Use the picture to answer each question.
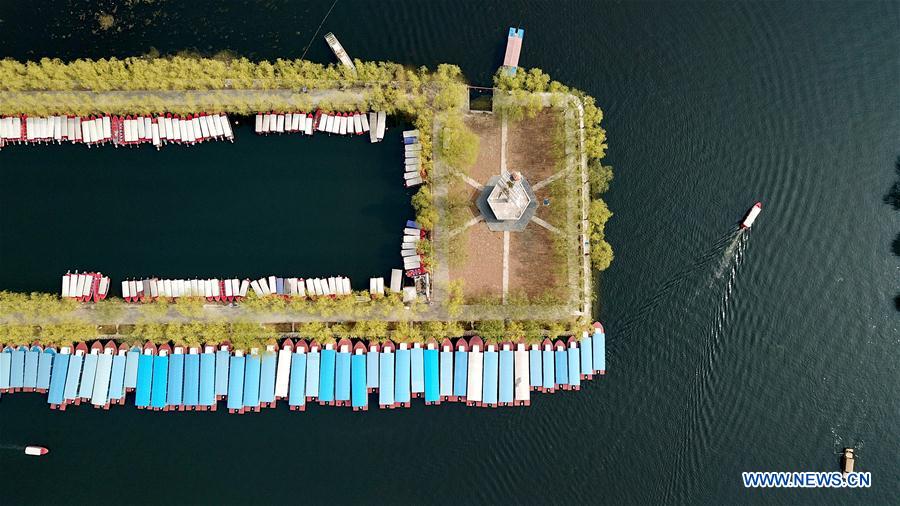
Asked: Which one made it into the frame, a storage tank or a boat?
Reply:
boat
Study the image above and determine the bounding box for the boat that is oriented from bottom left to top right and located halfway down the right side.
[740,204,758,228]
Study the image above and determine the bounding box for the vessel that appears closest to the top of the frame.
[504,28,523,76]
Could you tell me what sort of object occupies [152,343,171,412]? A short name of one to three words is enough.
boat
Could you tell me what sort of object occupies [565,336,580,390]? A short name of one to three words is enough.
boat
